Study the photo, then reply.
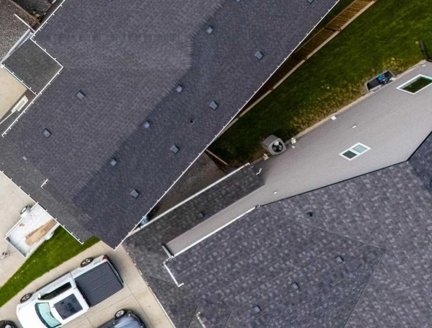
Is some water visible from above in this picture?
No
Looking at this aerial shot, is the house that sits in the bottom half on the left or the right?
right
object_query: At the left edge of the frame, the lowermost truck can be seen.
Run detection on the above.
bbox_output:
[17,254,125,328]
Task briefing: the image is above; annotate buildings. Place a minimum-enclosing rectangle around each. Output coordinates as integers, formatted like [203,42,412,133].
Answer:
[0,0,341,251]
[131,73,432,328]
